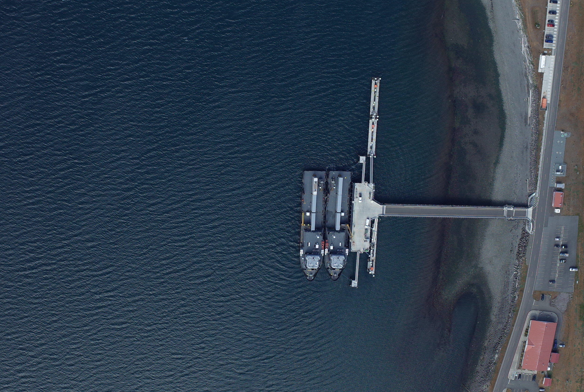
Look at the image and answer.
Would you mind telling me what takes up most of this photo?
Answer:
water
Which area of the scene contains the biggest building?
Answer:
bottom right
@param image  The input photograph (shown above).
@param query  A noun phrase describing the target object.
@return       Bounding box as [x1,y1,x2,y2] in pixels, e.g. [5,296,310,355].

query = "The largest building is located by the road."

[521,320,557,371]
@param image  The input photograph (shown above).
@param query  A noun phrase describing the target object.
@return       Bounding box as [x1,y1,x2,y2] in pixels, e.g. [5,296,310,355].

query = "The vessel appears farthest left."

[300,171,326,280]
